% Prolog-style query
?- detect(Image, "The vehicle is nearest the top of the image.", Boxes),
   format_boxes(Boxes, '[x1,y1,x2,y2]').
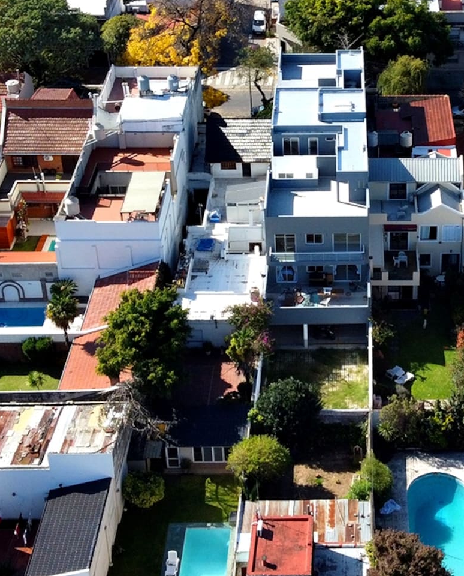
[249,9,267,33]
